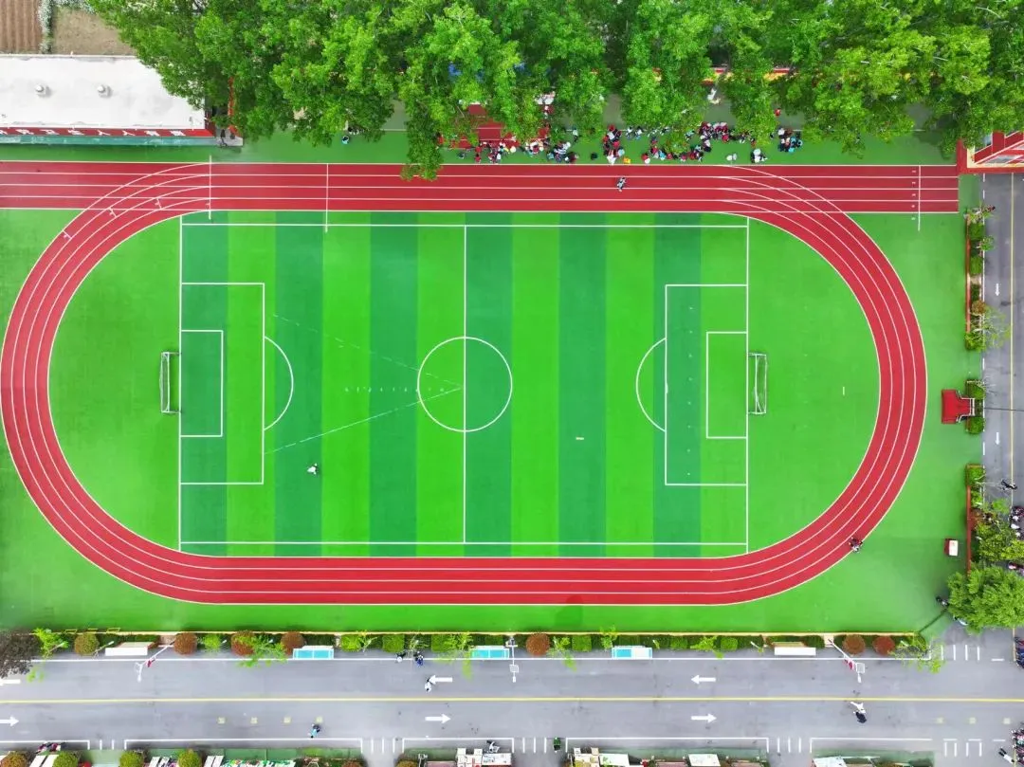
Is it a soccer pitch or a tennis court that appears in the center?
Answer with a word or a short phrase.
soccer pitch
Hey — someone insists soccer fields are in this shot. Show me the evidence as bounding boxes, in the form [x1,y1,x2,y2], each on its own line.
[179,213,844,557]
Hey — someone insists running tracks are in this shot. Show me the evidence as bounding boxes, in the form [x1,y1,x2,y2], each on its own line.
[0,156,957,605]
